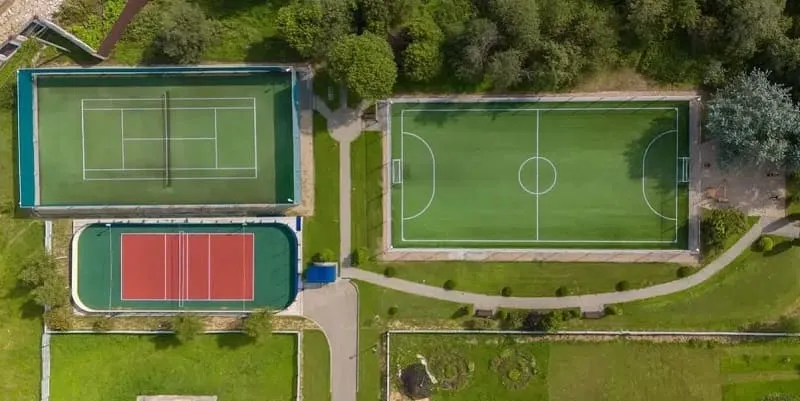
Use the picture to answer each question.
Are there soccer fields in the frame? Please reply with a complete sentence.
Yes, a soccer field can be made out from above.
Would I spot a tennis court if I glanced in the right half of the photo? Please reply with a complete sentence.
No, there's no tennis court to be seen in the right half of the photo.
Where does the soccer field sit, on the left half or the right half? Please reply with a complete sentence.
The soccer field is on the right side of the image.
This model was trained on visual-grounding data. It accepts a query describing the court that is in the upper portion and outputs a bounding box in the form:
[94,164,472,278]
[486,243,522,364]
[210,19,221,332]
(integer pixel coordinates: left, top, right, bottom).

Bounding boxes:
[34,72,295,208]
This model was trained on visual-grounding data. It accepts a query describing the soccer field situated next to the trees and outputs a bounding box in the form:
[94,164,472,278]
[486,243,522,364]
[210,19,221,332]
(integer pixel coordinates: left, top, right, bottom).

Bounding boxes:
[377,93,700,262]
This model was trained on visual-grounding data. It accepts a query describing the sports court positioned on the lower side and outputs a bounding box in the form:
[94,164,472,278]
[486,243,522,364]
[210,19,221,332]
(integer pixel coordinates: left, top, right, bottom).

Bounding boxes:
[73,217,303,318]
